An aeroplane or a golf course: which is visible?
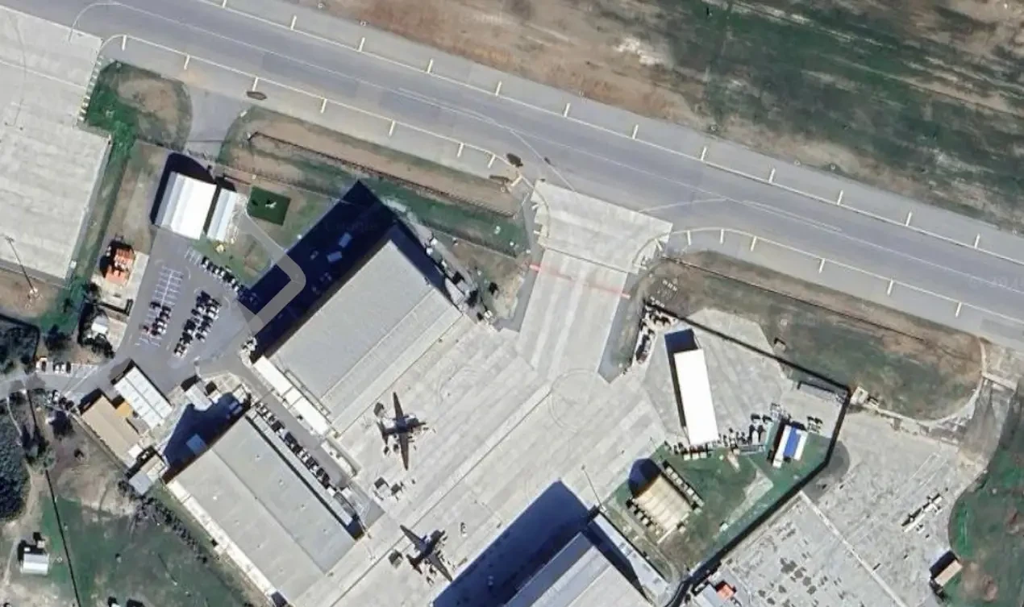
aeroplane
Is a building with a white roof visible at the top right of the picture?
No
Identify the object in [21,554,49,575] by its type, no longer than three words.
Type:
house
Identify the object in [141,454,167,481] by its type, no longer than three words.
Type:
building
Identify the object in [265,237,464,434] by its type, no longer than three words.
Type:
hangar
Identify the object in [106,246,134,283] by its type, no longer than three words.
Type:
house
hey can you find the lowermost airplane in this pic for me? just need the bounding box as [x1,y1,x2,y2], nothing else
[398,526,455,580]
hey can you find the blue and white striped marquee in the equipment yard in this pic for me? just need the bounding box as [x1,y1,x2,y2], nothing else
[775,425,807,463]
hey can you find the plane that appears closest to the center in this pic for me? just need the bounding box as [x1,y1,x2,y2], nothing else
[379,393,427,468]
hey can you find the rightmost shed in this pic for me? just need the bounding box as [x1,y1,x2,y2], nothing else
[934,561,962,586]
